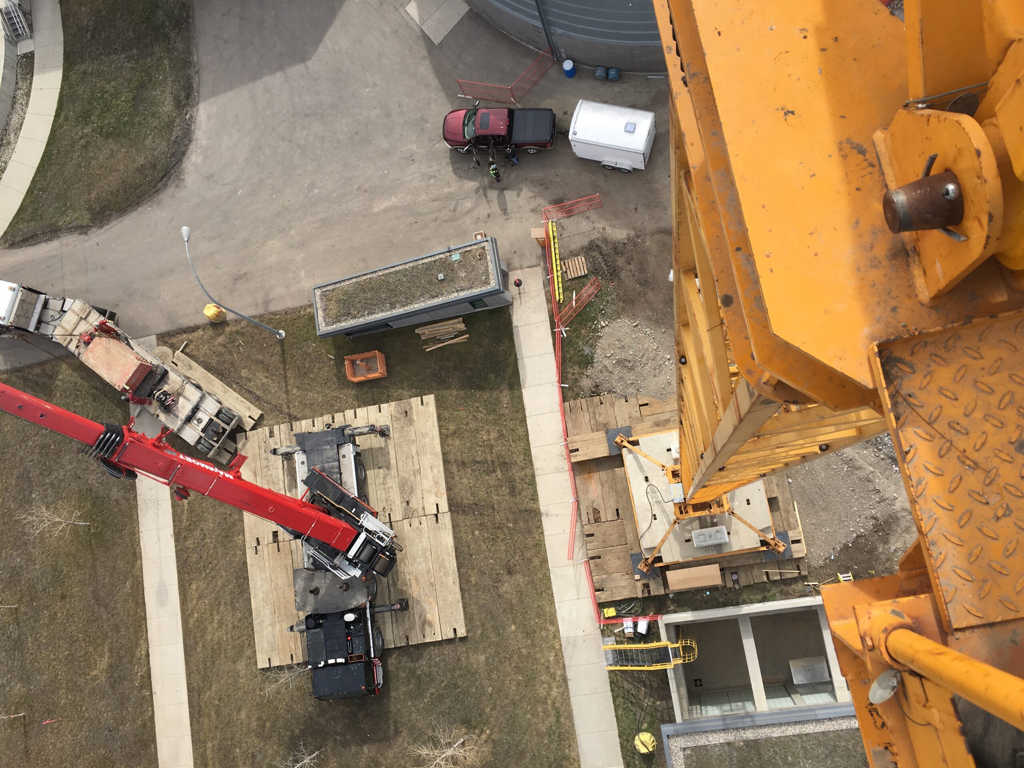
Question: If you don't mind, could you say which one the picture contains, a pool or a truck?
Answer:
truck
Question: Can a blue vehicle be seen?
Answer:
No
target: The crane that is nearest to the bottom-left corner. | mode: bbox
[0,369,411,705]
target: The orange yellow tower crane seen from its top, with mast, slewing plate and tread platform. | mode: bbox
[613,0,1024,768]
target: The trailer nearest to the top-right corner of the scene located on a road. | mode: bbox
[555,100,656,171]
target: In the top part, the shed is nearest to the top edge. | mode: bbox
[312,237,514,339]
